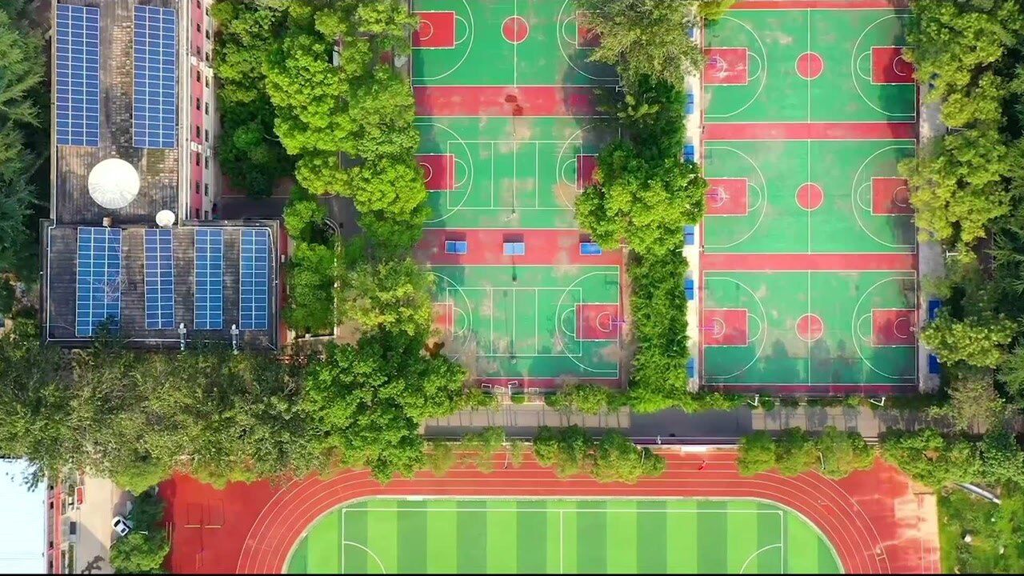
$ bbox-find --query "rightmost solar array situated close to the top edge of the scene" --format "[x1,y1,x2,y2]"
[133,5,175,149]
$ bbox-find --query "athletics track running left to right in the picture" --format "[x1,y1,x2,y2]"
[162,452,942,576]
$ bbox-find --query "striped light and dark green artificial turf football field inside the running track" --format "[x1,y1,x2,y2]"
[287,500,842,576]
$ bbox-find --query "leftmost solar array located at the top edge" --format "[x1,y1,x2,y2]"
[56,5,100,147]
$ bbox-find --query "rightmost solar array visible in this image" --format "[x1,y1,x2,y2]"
[240,230,268,330]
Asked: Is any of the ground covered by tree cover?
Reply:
Yes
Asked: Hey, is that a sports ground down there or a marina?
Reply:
sports ground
